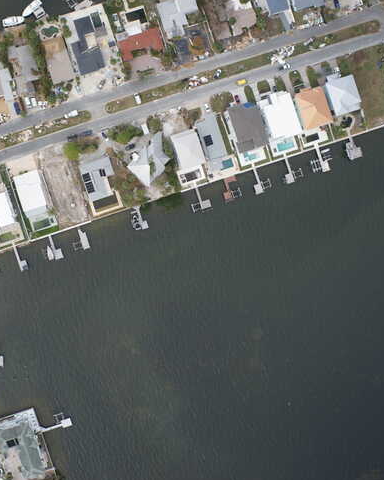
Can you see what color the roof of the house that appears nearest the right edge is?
white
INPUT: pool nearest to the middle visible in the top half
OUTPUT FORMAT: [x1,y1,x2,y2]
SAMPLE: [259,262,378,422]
[182,167,203,183]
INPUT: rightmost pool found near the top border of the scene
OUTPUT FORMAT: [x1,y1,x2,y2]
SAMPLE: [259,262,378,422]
[125,7,147,25]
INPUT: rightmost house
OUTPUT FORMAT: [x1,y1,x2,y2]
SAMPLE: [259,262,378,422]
[325,73,361,117]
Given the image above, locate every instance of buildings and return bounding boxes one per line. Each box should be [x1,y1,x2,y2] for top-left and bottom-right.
[0,192,17,229]
[293,88,333,130]
[72,16,105,75]
[0,69,14,102]
[227,103,269,153]
[325,73,361,117]
[171,129,205,171]
[43,38,71,84]
[116,20,164,62]
[14,171,47,213]
[290,0,325,12]
[0,424,45,478]
[257,91,303,141]
[9,46,39,82]
[197,115,226,159]
[158,0,198,39]
[216,0,256,39]
[80,158,114,201]
[264,0,289,17]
